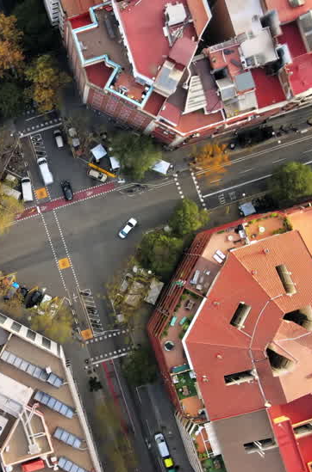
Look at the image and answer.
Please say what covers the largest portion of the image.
buildings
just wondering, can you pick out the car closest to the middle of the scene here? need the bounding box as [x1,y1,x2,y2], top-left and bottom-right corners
[117,217,137,238]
